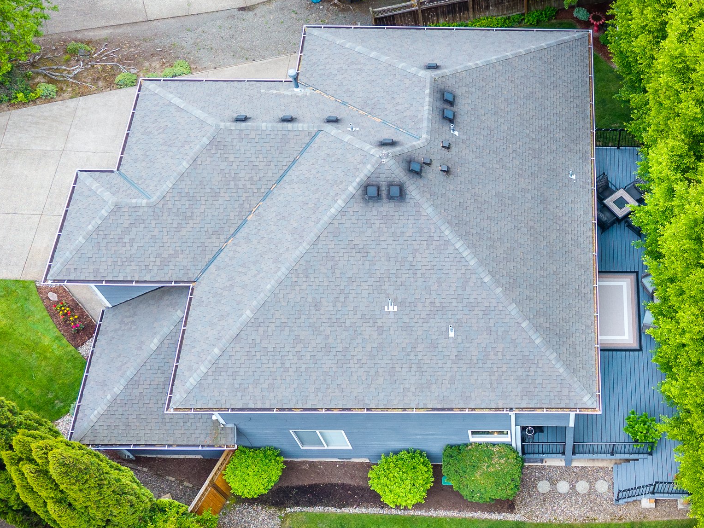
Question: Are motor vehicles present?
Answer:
No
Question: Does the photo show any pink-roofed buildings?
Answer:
No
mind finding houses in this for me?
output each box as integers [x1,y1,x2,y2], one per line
[44,26,602,466]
